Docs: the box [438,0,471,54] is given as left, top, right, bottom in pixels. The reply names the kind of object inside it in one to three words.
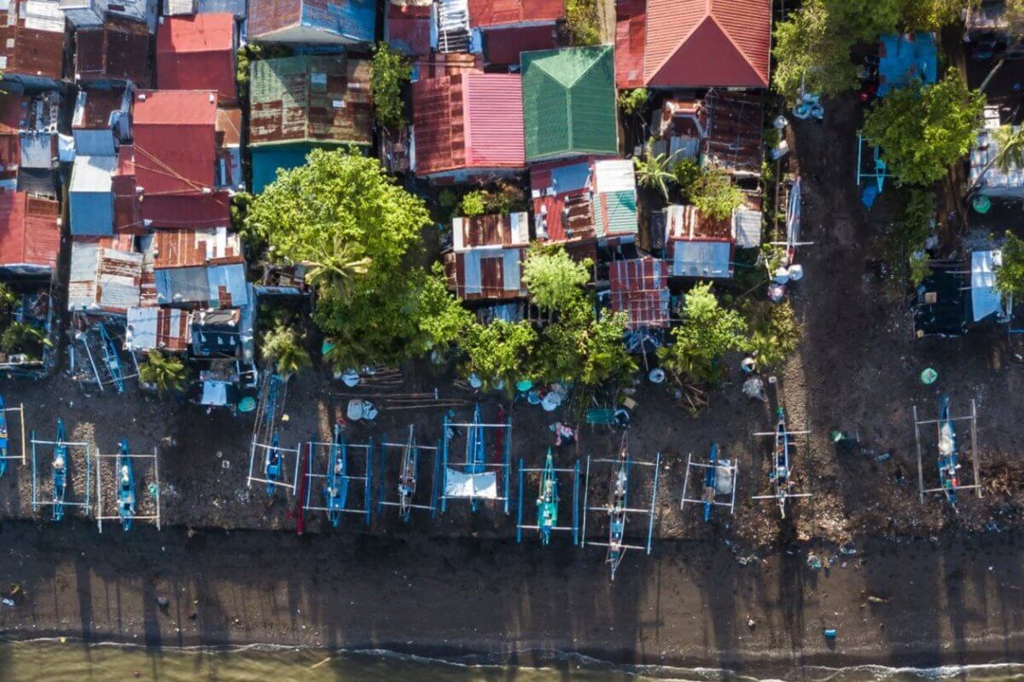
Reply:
shed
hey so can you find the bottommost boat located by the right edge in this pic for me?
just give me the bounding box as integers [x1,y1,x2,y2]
[914,396,982,514]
